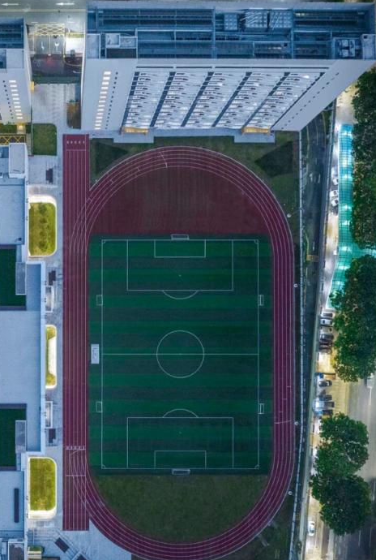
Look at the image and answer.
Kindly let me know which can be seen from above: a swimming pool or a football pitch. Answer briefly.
football pitch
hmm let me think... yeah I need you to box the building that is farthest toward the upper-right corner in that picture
[79,5,376,143]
